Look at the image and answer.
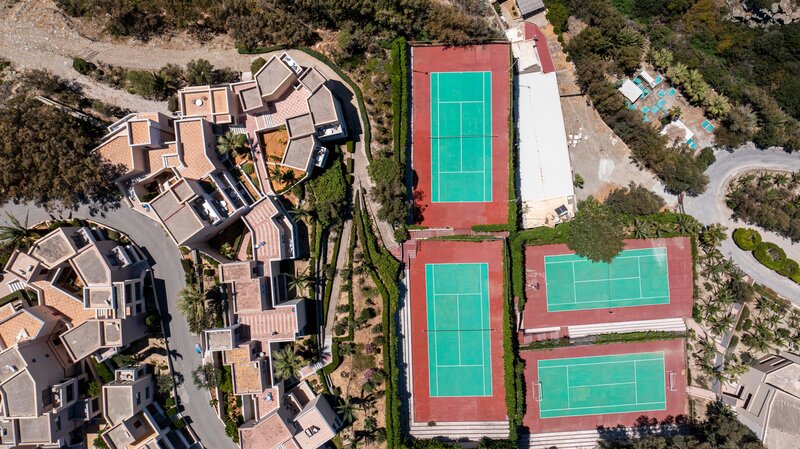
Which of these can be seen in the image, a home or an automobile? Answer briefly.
home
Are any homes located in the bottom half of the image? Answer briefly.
Yes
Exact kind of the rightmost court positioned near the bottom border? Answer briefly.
tennis court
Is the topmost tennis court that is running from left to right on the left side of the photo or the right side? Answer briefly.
right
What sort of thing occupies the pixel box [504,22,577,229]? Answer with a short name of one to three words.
building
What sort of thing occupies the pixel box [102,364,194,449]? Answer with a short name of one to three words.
house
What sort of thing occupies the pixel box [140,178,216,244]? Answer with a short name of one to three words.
house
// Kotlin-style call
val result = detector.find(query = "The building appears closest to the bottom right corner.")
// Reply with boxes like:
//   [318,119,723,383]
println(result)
[720,346,800,449]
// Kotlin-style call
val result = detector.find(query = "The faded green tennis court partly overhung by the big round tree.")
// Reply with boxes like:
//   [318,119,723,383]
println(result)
[523,237,692,329]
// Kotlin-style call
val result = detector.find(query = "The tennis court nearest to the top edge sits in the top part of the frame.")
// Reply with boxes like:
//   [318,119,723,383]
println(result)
[412,44,511,227]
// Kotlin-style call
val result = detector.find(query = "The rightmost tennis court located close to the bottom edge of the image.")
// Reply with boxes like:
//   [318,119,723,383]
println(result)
[520,339,687,434]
